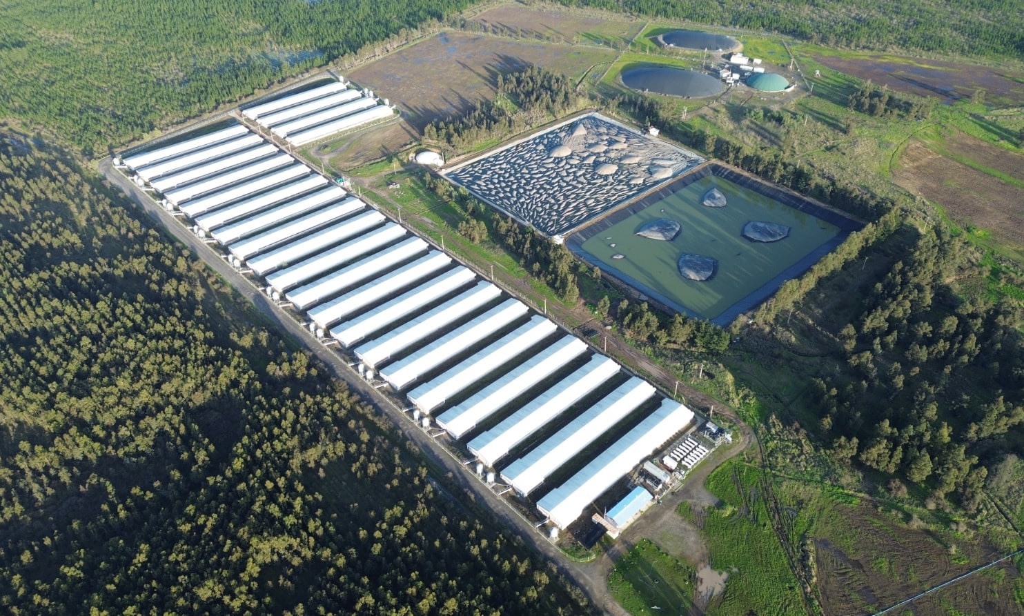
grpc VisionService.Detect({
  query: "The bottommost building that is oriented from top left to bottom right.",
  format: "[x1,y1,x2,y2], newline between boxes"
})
[590,513,622,543]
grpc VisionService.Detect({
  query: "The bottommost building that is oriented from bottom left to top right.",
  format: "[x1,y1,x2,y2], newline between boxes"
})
[605,485,653,530]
